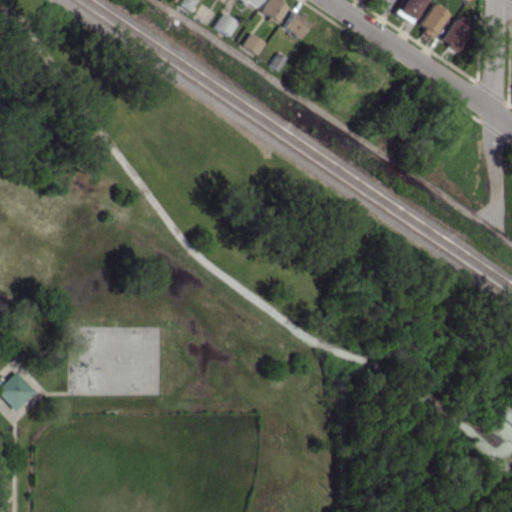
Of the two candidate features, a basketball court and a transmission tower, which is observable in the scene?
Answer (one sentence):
Visible in the photo is a basketball court.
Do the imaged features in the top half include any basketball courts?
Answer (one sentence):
No, there's no basketball court to be seen in the top half.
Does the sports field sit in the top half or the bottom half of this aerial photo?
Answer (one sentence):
It is in the bottom half that the sports field appears.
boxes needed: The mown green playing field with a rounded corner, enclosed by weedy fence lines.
[33,412,257,512]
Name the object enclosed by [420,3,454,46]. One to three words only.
house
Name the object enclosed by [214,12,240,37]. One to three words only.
building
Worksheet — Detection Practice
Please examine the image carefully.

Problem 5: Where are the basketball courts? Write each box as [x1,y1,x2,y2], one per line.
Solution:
[69,327,160,396]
